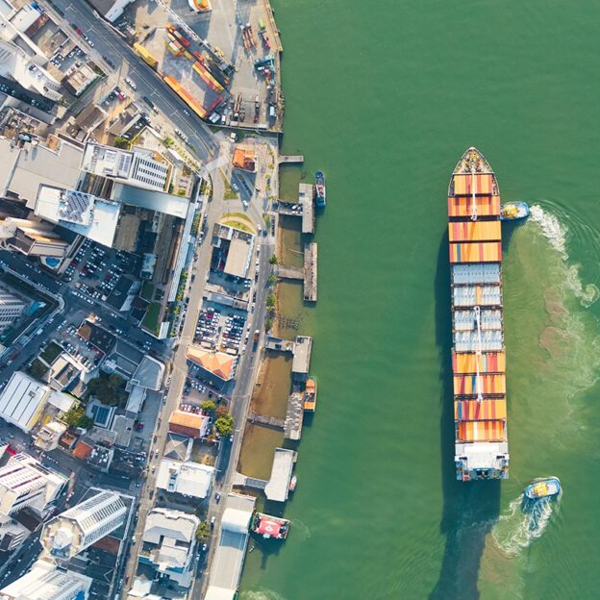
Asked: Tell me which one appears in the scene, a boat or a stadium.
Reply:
boat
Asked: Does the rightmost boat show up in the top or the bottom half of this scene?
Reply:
bottom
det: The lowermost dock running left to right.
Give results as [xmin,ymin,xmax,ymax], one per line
[249,414,285,428]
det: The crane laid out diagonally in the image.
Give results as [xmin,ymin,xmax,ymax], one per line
[159,0,242,83]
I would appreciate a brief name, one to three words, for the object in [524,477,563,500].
boat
